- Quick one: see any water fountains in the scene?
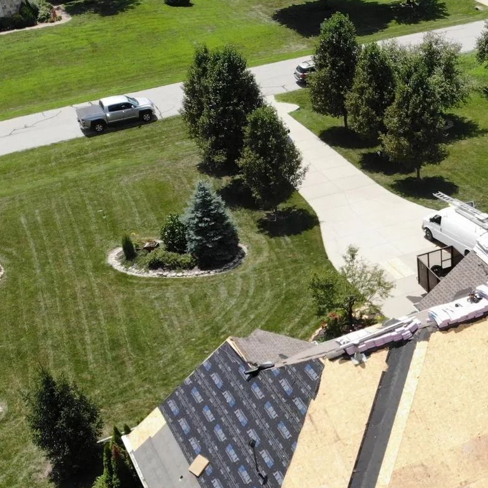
No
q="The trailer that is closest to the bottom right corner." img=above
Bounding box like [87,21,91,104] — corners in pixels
[419,246,462,289]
